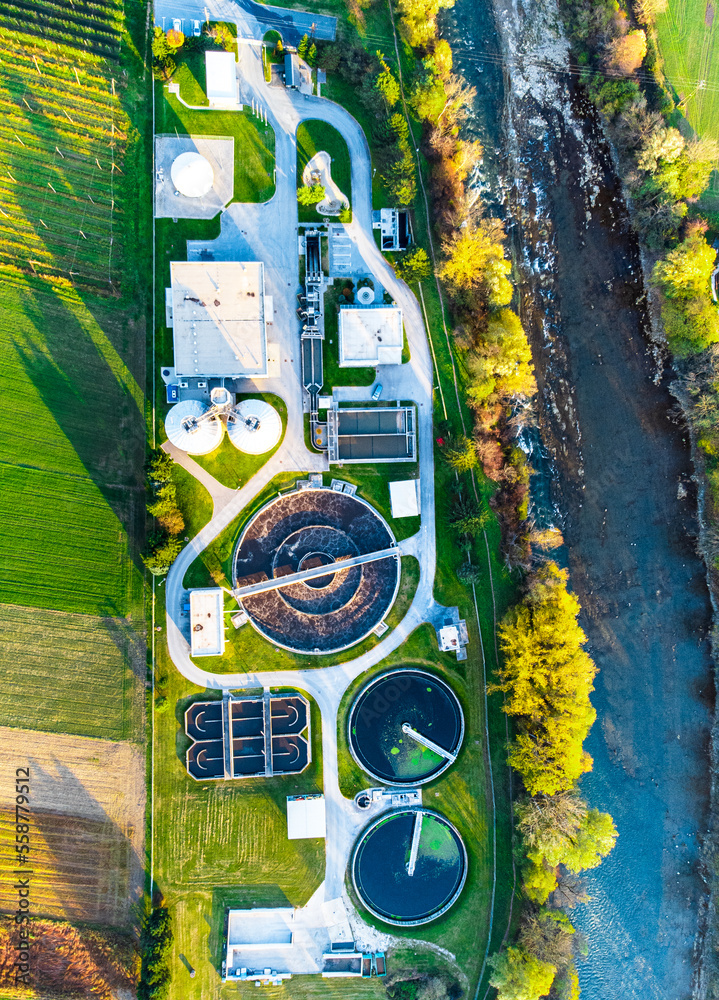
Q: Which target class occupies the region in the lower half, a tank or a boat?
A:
tank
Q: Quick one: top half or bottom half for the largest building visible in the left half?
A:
top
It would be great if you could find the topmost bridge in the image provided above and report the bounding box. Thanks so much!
[233,545,401,599]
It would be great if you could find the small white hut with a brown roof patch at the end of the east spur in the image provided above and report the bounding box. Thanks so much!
[439,624,459,651]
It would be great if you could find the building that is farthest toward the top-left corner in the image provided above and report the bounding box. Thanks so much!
[205,52,238,104]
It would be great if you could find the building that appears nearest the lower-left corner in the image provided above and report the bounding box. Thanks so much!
[227,906,295,979]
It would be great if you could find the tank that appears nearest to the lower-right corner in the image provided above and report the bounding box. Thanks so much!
[353,810,468,926]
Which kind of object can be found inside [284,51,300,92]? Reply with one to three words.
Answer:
building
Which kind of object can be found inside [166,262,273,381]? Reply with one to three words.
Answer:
building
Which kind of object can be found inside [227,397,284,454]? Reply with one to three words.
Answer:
silo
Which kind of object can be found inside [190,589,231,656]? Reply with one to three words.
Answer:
house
